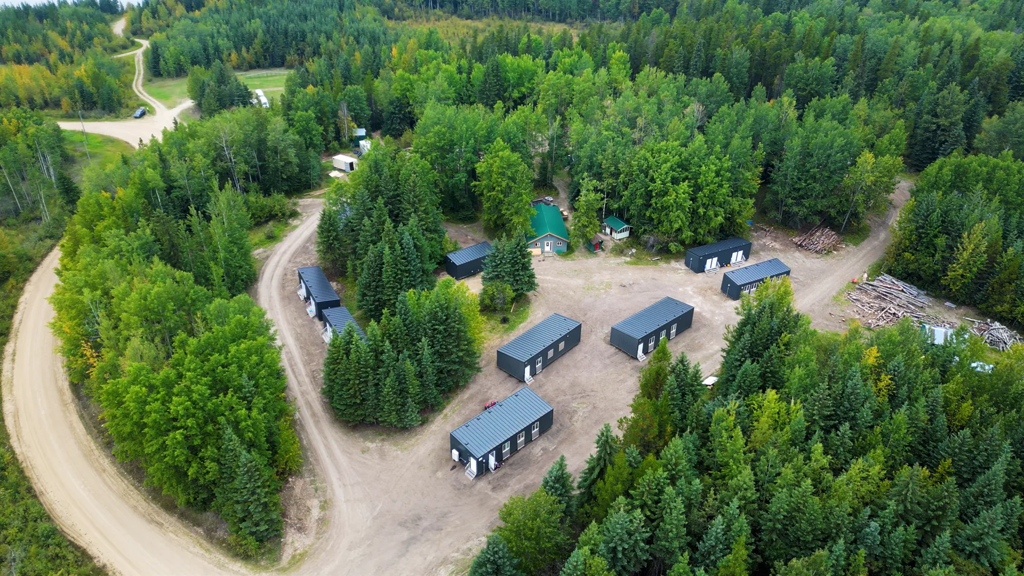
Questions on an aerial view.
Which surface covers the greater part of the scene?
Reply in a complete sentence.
The bulk of the photo consists of trees.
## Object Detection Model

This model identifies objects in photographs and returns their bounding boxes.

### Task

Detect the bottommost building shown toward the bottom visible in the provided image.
[448,387,555,483]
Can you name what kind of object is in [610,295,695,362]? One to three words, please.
building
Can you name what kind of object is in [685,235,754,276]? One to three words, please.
building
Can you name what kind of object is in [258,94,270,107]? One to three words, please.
vehicle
